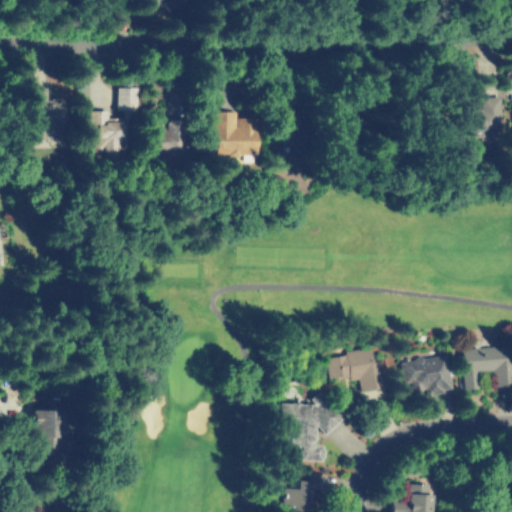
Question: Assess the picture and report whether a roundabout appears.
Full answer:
No, this view has no roundabout in it.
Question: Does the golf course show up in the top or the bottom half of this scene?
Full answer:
Seen from above, the golf course lies in the bottom half of the view.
